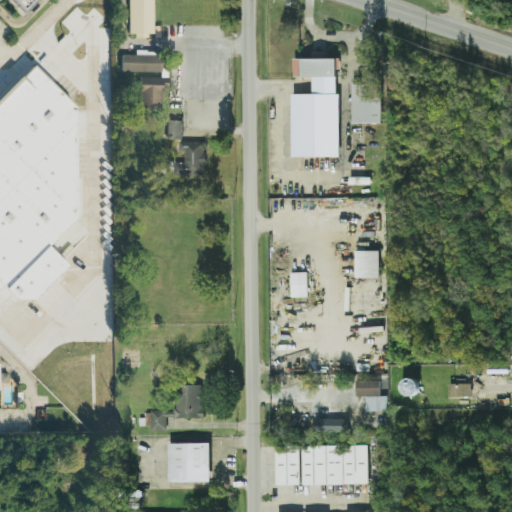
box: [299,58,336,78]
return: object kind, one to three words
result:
building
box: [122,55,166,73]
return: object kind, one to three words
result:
house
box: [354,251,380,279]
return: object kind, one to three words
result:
shed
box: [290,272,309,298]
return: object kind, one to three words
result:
shed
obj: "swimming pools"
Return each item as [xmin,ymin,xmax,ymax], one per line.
[2,380,16,408]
